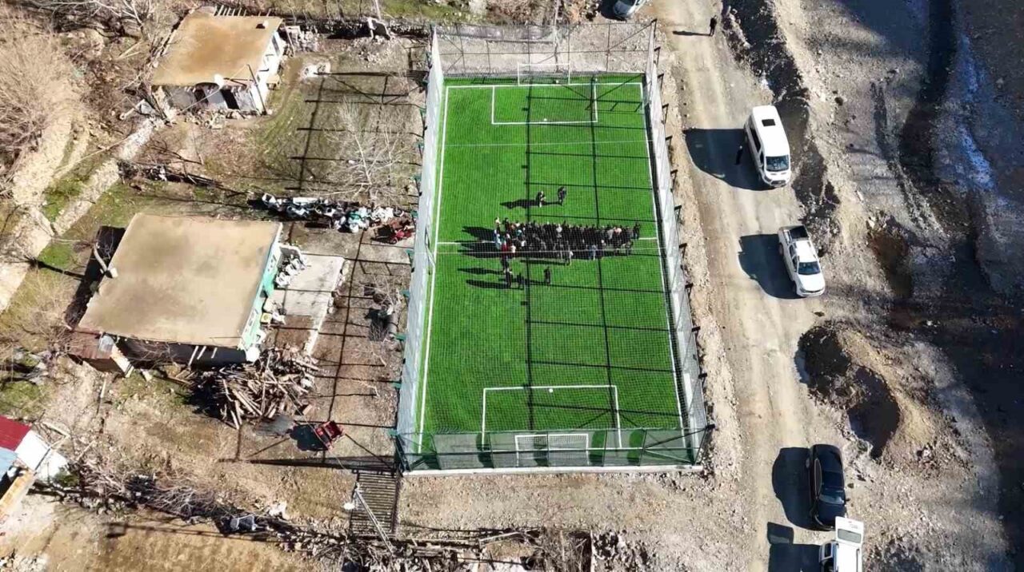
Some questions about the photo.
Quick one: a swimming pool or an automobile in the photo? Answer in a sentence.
Of the two, only an automobile appears.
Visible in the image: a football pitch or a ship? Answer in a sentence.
The one in the frame is a football pitch.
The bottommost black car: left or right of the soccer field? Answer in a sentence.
The bottommost black car is to the right of the soccer field.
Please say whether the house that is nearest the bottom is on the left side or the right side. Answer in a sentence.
The house that is nearest the bottom appears in the left half of the scene.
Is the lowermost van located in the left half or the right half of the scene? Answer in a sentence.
It is on the right.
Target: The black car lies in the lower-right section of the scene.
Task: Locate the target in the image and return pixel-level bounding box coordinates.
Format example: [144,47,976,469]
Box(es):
[808,442,857,534]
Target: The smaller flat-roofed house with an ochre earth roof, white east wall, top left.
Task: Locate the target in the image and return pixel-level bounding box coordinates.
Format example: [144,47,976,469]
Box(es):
[153,9,290,112]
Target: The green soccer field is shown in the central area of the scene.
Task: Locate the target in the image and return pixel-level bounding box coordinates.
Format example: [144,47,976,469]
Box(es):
[403,67,702,477]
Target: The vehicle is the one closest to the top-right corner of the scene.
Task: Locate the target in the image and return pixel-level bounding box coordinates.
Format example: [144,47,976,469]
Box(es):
[745,102,798,186]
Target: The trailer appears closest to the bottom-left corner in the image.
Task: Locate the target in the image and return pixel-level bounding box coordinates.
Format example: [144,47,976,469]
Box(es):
[310,418,348,456]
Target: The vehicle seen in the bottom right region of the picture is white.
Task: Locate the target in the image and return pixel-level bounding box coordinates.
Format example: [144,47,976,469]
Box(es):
[822,519,868,572]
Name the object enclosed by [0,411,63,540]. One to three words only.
house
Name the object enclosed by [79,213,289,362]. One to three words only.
house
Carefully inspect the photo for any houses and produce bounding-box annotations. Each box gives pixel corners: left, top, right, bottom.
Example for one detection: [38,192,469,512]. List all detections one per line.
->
[153,9,290,112]
[0,411,63,540]
[79,213,289,362]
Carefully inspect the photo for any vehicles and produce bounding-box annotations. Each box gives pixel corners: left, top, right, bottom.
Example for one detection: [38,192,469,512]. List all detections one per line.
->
[822,519,868,572]
[617,0,650,17]
[778,226,831,299]
[745,102,798,186]
[808,442,857,534]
